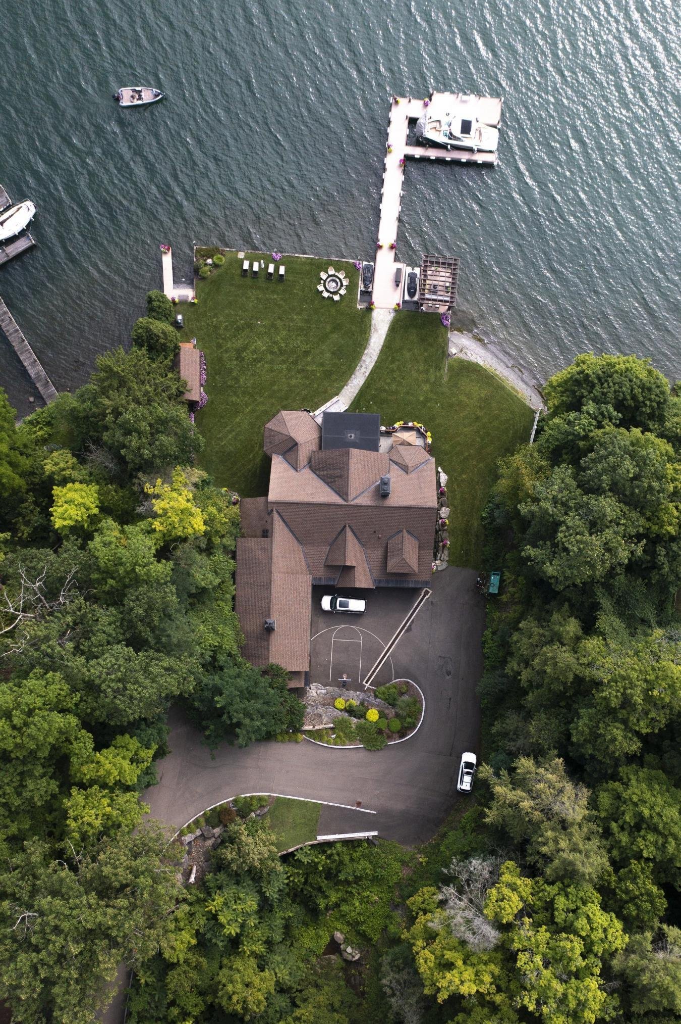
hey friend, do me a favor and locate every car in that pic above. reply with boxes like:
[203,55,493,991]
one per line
[457,753,480,795]
[321,594,367,616]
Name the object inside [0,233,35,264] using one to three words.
pier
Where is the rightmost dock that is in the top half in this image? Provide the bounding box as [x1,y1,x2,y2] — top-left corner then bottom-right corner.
[371,92,504,310]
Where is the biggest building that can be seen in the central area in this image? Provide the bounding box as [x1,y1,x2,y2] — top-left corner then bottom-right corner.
[235,410,439,687]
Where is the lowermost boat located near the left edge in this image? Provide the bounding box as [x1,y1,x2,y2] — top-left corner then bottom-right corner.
[0,193,35,237]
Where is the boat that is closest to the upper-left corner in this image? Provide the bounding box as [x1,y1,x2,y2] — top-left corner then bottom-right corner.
[113,84,164,103]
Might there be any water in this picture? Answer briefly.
Yes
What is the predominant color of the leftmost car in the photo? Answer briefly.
white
